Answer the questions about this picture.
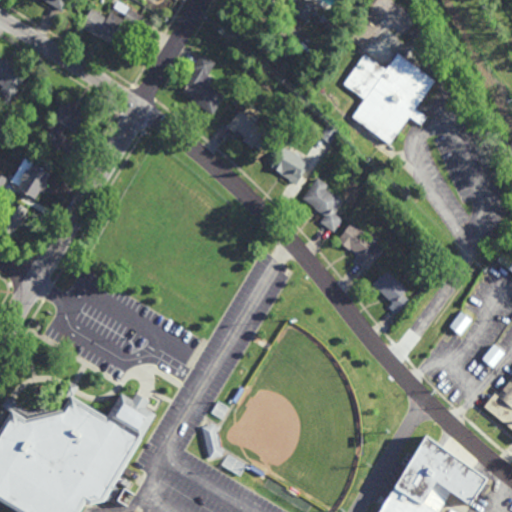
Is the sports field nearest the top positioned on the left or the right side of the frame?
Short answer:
left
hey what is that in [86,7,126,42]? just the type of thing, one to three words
house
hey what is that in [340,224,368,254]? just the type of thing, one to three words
house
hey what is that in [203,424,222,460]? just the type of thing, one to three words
building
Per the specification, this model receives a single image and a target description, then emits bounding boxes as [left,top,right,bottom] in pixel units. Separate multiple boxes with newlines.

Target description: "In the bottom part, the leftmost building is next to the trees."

[0,395,156,512]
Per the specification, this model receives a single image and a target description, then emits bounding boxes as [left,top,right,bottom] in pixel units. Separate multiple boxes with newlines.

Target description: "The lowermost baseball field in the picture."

[220,322,362,512]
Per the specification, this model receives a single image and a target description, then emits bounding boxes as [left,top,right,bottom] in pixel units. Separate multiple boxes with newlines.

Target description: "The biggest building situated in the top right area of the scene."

[343,55,434,145]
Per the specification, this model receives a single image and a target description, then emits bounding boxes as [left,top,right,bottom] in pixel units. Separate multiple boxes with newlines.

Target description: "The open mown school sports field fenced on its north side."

[90,153,262,338]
